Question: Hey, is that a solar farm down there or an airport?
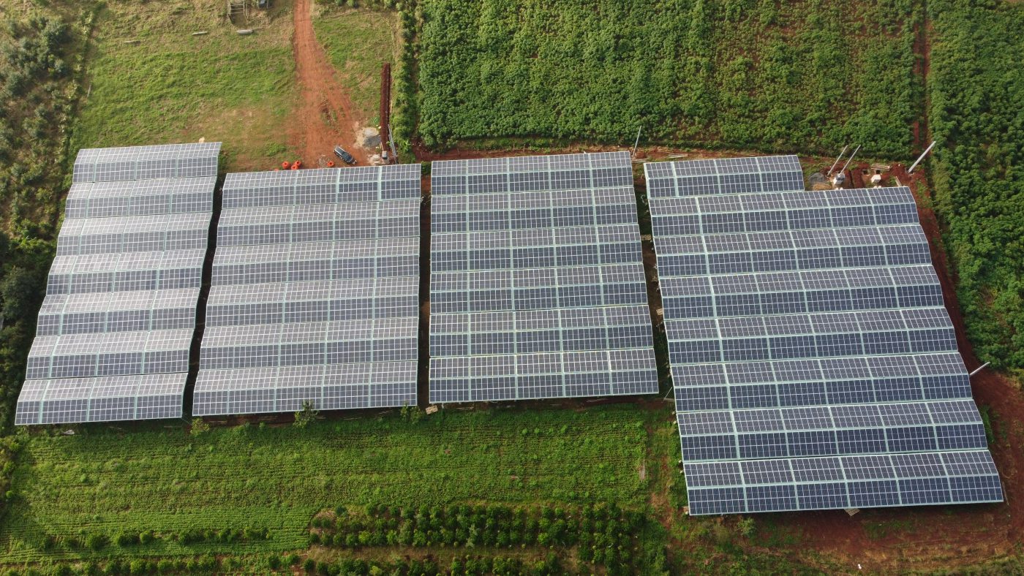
solar farm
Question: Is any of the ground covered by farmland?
Yes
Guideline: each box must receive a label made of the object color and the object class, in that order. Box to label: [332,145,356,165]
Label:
gray vehicle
